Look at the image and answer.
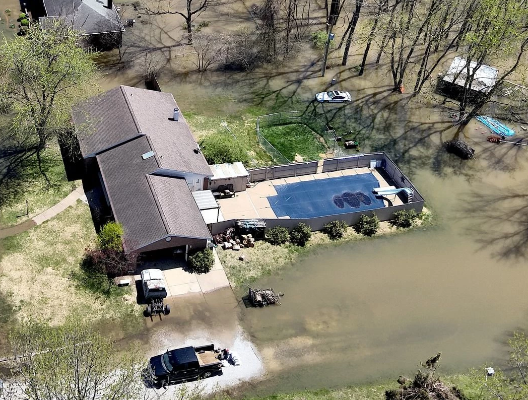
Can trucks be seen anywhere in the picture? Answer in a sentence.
Yes, this view includes a truck.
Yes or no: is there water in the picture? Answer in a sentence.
Yes, there is water in the image.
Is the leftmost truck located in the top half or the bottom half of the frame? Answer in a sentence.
You can find the leftmost truck in the bottom half.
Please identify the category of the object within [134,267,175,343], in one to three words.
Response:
truck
